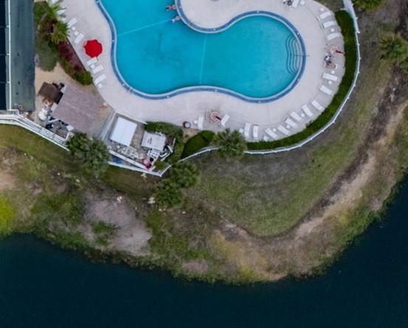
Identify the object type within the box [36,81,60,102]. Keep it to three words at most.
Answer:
shed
